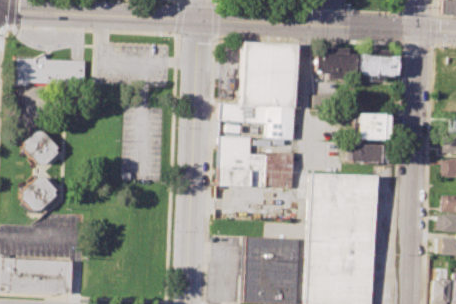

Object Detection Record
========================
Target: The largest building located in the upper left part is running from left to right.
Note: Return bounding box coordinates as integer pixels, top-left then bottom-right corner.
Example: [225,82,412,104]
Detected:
[12,54,85,88]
